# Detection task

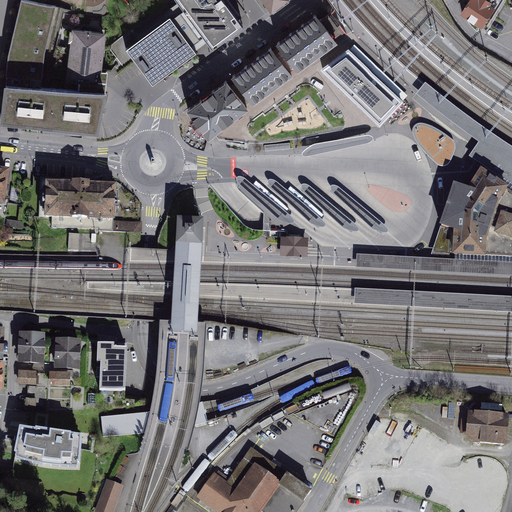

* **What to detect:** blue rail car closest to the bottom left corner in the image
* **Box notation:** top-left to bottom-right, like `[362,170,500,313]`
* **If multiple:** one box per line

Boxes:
[160,384,172,422]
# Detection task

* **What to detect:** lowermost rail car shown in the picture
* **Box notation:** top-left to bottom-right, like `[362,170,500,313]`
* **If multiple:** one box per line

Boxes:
[170,491,185,508]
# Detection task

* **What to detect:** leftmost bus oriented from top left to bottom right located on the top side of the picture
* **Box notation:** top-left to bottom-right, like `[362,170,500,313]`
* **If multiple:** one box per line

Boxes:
[252,178,292,212]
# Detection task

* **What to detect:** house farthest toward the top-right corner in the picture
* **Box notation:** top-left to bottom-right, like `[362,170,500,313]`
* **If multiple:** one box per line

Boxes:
[460,0,500,28]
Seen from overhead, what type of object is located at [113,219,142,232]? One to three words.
shed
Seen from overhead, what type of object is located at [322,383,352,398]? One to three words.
rail car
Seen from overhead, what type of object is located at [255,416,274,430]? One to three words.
rail car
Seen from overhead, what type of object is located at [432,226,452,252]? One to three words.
building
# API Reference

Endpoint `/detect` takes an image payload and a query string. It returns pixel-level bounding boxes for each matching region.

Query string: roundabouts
[130,138,176,184]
